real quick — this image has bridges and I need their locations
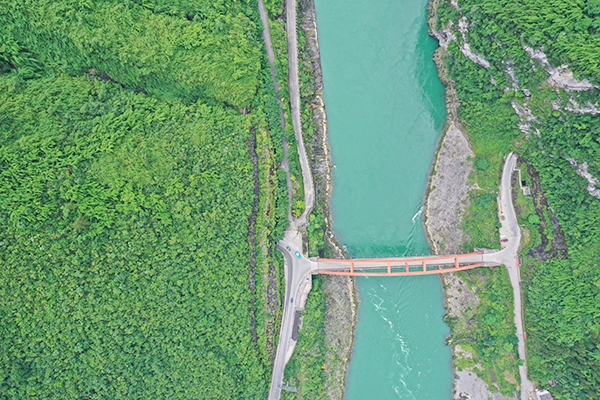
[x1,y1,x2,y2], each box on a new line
[307,249,496,277]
